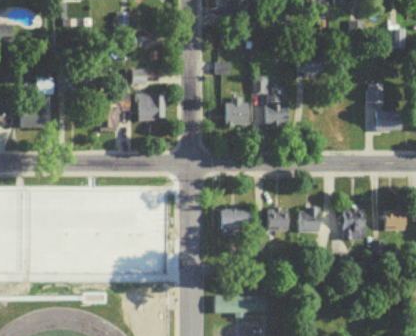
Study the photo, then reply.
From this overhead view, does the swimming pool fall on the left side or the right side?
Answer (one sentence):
The swimming pool is on the left side of the image.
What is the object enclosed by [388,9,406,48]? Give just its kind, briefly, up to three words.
building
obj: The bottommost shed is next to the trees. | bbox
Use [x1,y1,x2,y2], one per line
[214,296,263,319]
